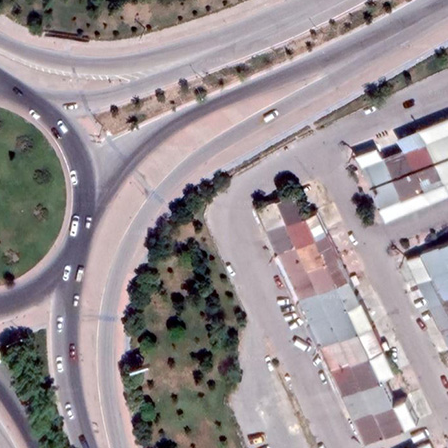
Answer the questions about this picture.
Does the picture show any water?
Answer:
No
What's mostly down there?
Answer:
paved ground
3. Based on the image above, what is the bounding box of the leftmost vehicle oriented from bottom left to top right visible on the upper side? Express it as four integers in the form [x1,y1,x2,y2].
[264,109,281,122]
